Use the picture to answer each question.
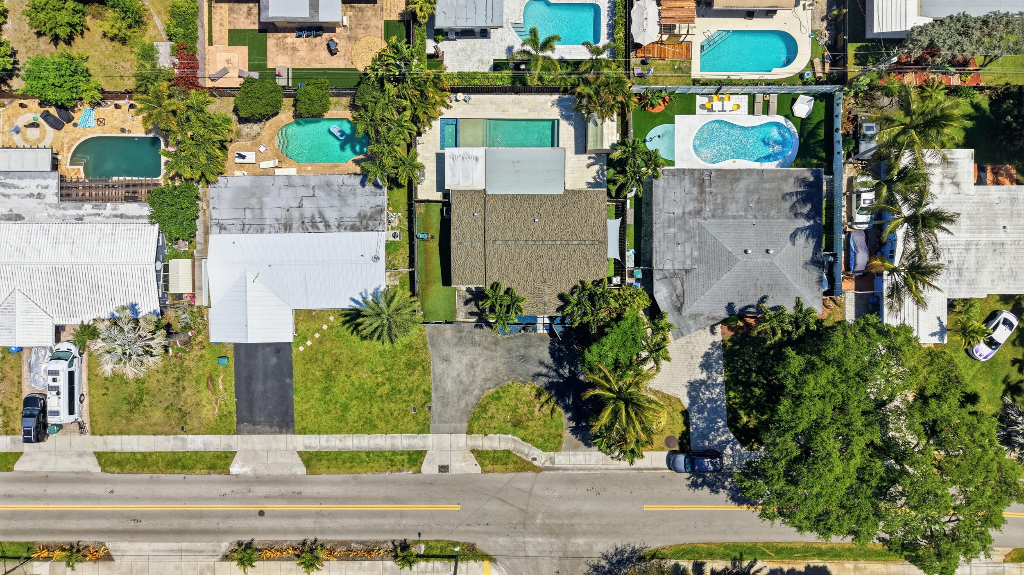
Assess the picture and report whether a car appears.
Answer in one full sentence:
Yes, you can see a car in this photo.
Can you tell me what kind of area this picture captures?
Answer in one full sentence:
The picture captures a residential area.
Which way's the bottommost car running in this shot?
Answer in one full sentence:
I'd say the bottommost car is aligned from left to right in the picture.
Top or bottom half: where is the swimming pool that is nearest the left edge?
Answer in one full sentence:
Seen from above, the swimming pool that is nearest the left edge lies in the top half of the view.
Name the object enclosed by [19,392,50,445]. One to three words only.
car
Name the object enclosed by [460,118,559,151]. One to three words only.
swimming pool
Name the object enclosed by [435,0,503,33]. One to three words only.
house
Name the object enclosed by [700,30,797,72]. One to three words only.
swimming pool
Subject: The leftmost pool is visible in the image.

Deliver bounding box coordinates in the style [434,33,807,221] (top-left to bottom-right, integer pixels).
[67,134,164,183]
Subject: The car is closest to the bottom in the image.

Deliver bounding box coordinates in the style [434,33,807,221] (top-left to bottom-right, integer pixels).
[666,450,720,476]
